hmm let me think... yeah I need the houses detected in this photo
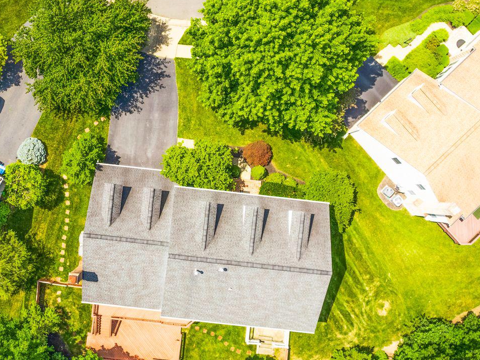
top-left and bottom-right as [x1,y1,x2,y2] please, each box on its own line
[67,162,334,334]
[347,36,480,230]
